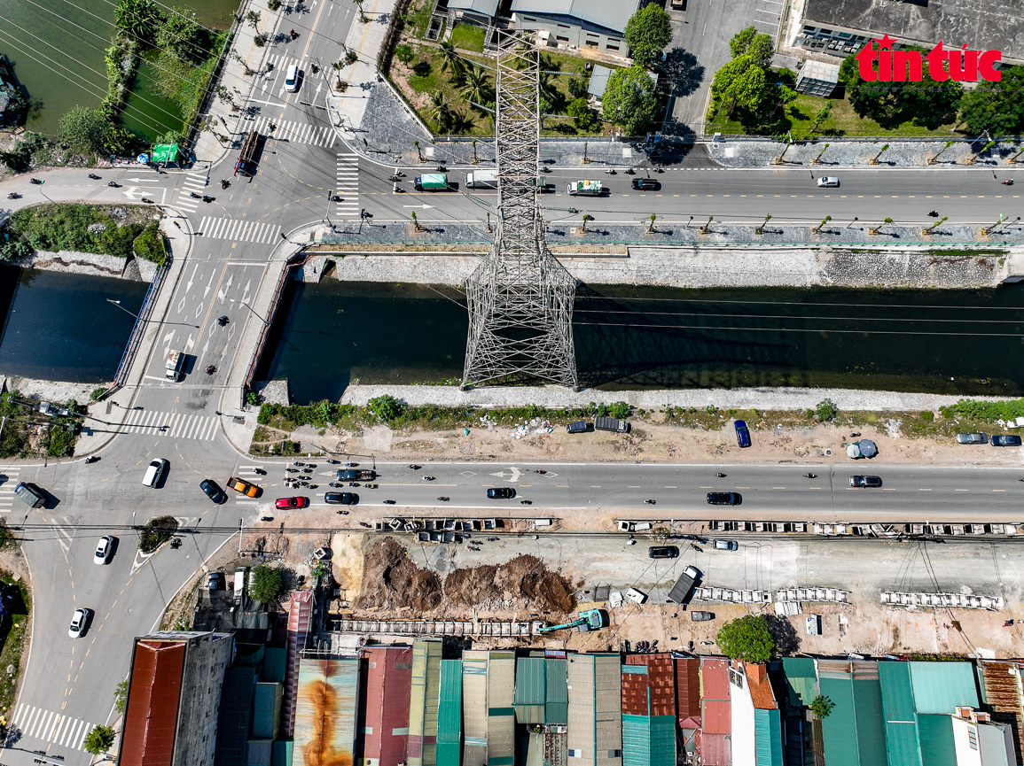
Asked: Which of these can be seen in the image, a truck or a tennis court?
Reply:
truck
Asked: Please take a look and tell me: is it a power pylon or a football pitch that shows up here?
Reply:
power pylon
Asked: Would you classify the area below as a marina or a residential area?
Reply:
residential area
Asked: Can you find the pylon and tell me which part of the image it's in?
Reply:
top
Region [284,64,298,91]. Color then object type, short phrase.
white vehicle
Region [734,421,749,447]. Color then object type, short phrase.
blue car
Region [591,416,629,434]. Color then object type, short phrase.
gray vehicle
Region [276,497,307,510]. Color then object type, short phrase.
red vehicle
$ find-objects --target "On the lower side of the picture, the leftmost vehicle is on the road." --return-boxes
[12,483,48,513]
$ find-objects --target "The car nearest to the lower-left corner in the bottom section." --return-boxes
[69,607,91,639]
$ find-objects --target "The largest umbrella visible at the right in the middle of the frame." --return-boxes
[857,439,876,458]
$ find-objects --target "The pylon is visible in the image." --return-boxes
[445,10,588,395]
